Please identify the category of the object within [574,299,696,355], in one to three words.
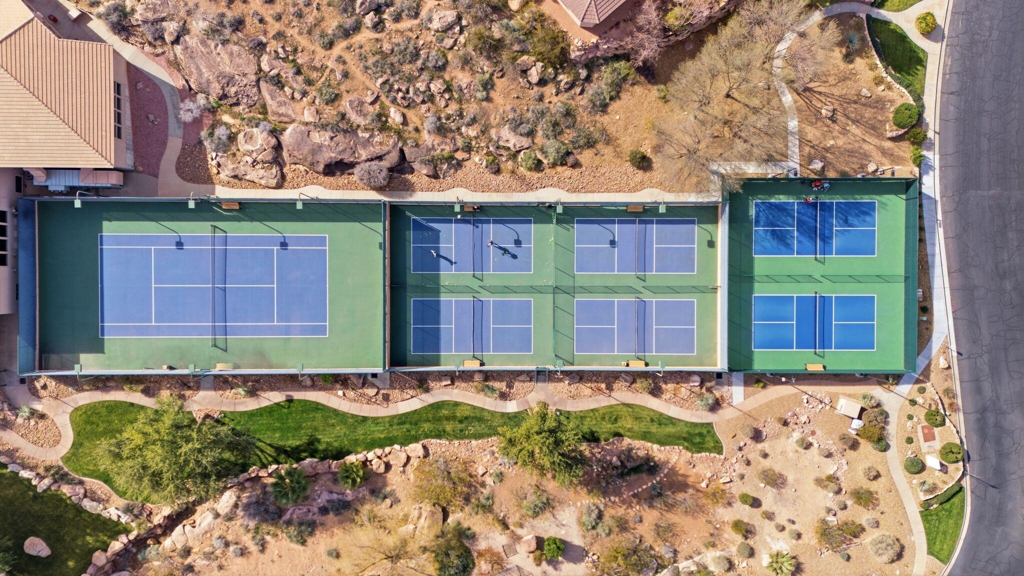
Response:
sports court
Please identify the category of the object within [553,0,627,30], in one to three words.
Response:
house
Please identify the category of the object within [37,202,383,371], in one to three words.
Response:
tennis court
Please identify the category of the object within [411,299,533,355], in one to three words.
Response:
sports court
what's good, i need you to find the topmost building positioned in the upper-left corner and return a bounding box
[0,0,137,169]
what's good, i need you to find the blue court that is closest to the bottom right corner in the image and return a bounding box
[753,295,877,351]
